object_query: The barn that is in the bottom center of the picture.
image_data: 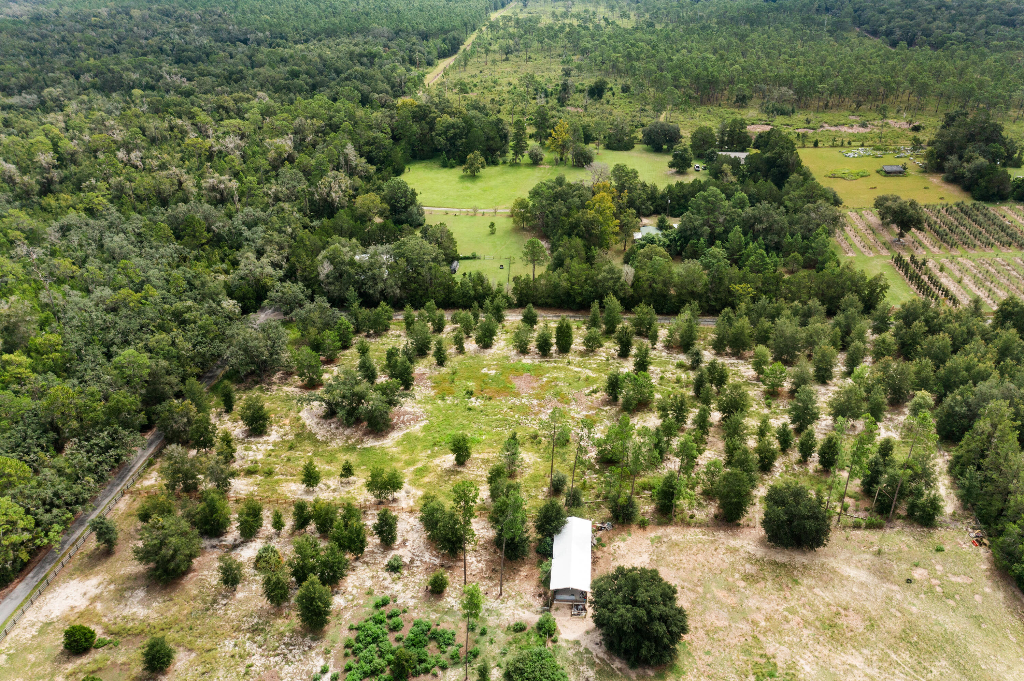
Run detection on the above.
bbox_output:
[549,515,592,609]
